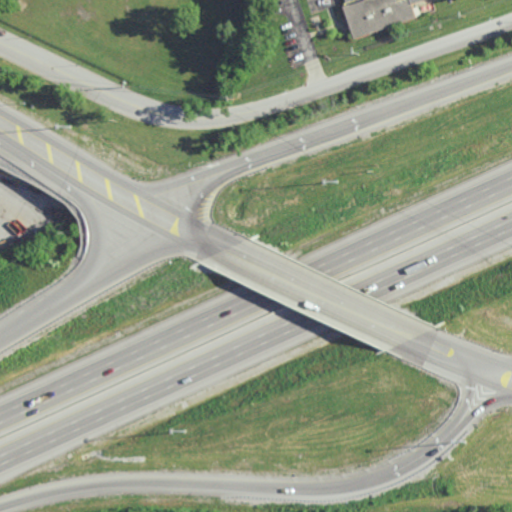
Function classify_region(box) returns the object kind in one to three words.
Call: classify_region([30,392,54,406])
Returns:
vehicle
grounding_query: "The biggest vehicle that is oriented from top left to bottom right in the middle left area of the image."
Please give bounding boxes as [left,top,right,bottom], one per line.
[7,220,24,236]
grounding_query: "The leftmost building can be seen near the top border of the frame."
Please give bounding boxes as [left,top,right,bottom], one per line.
[342,0,416,38]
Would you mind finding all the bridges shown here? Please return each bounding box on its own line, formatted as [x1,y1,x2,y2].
[187,232,446,357]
